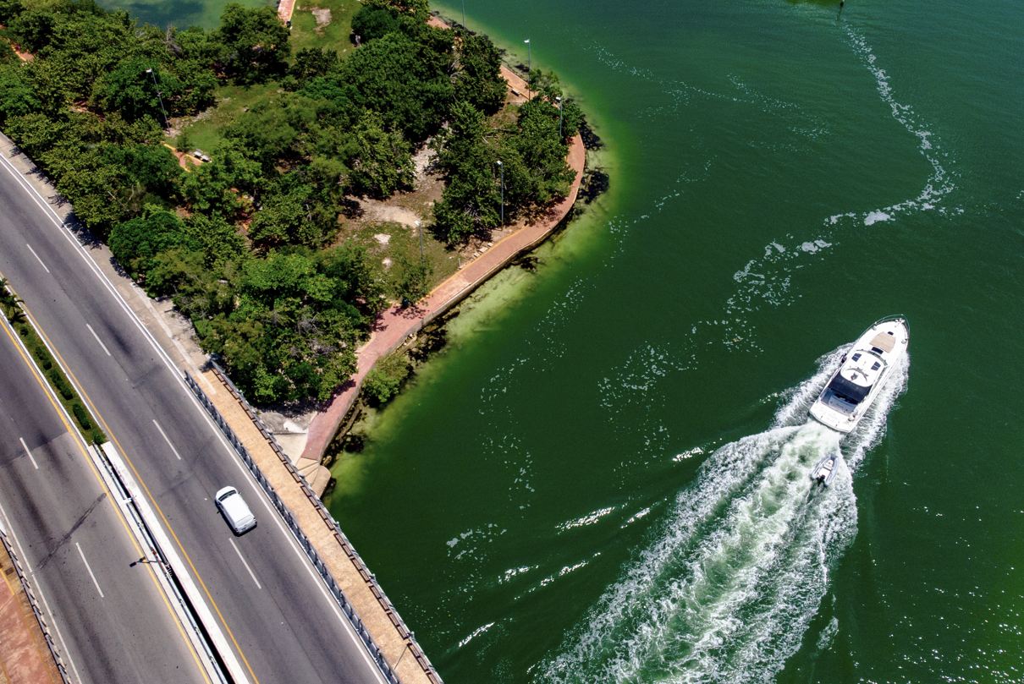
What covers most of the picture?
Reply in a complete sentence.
The scene is dominated by water.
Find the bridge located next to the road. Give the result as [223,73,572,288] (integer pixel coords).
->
[0,371,446,684]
